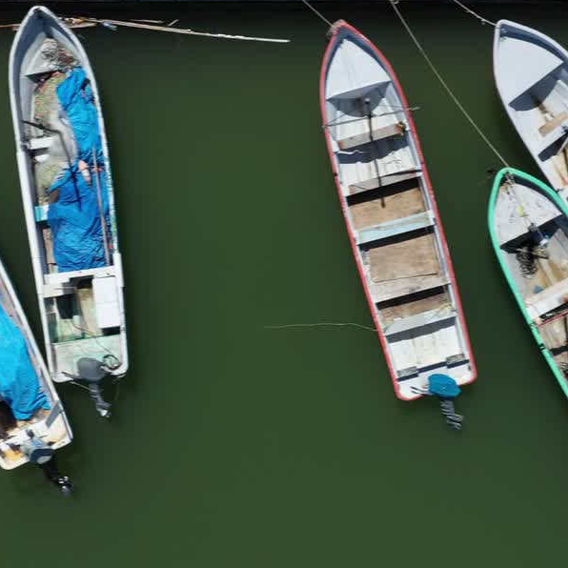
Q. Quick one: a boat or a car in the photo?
boat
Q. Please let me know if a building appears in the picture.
No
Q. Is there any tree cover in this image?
No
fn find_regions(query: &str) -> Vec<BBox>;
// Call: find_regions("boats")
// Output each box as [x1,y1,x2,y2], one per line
[11,6,130,417]
[318,20,475,426]
[492,166,568,393]
[492,18,568,204]
[0,255,75,494]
